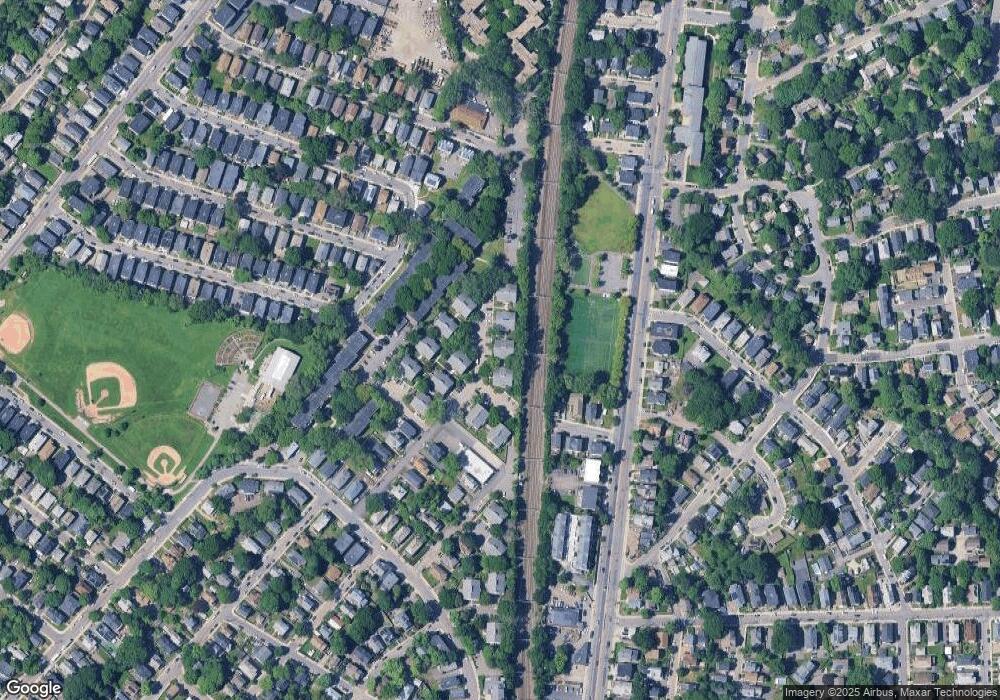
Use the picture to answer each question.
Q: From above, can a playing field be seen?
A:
Yes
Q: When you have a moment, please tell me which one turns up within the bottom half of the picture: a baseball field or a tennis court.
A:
baseball field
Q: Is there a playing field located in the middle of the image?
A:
Yes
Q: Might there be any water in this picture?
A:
No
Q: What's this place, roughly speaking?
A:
residential area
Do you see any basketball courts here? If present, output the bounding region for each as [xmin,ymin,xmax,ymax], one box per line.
[189,381,222,421]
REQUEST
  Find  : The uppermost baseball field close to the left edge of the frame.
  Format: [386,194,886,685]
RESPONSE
[0,312,33,354]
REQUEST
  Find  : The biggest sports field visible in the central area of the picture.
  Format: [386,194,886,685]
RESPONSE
[566,290,622,374]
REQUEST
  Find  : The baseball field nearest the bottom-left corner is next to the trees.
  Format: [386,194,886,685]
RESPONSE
[144,445,186,486]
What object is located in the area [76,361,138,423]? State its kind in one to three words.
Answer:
baseball field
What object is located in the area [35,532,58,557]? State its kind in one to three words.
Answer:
house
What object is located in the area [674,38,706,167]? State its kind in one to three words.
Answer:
building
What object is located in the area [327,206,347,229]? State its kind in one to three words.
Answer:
house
